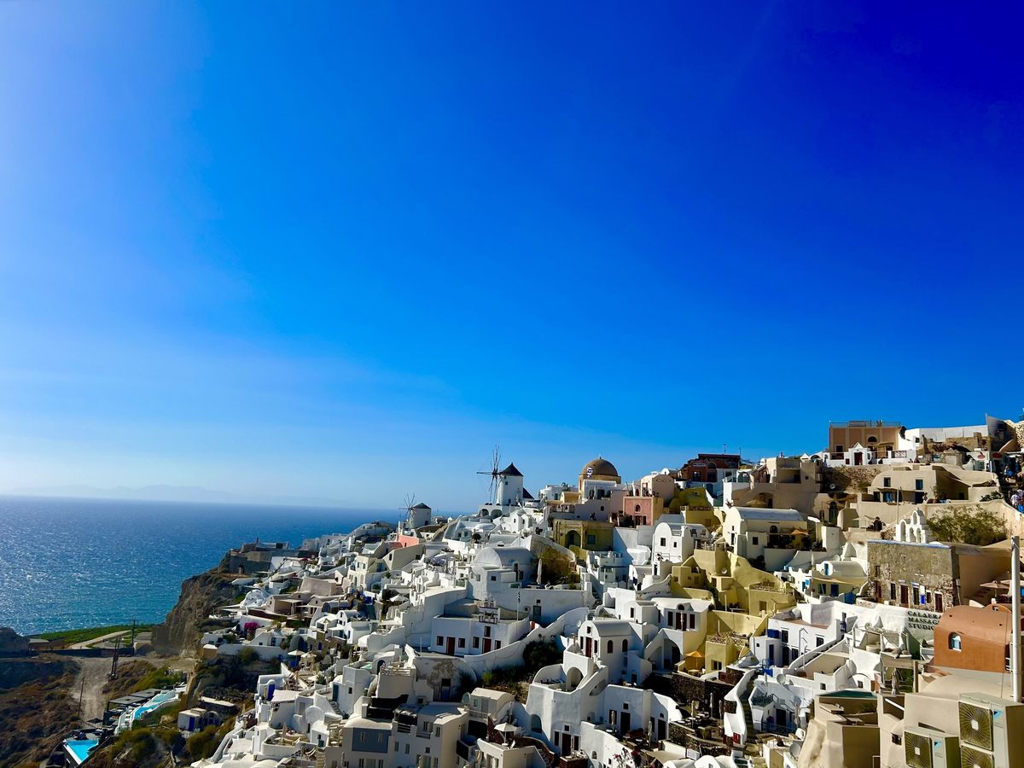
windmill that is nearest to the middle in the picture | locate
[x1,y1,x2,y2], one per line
[477,445,526,516]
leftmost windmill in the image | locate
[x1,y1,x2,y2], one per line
[400,492,433,528]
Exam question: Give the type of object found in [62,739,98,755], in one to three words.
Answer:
swimming pool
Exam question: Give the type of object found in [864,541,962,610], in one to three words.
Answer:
house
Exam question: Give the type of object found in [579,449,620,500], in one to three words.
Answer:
building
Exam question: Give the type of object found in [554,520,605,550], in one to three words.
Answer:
house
